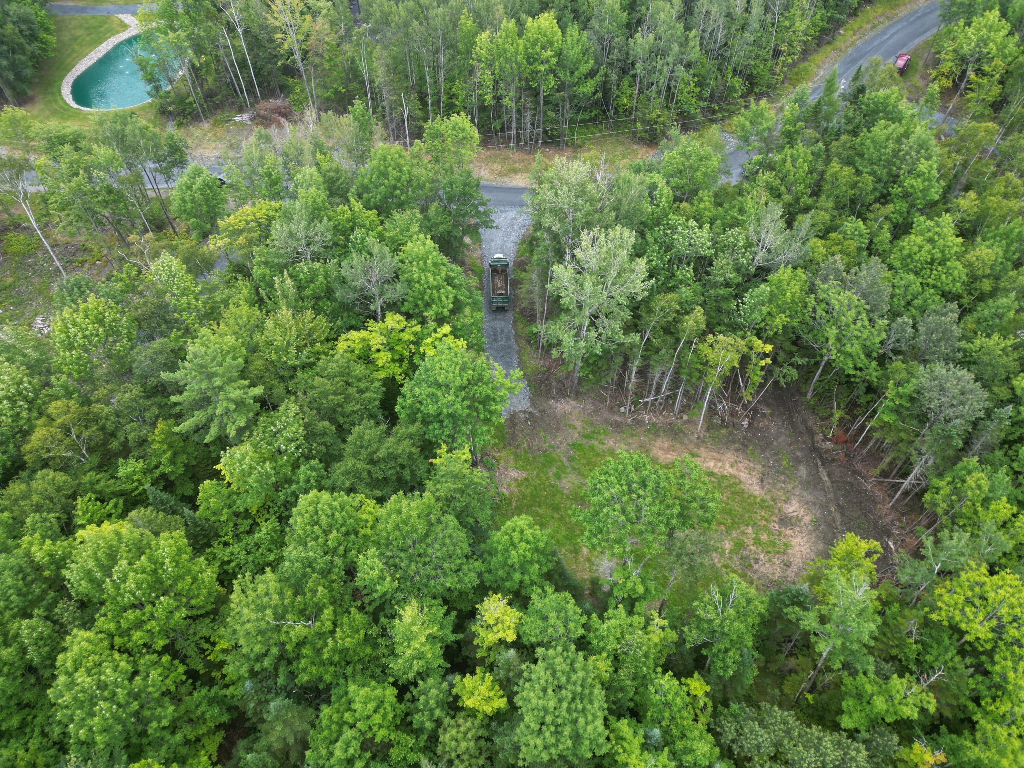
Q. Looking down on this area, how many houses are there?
none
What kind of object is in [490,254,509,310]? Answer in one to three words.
vehicle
